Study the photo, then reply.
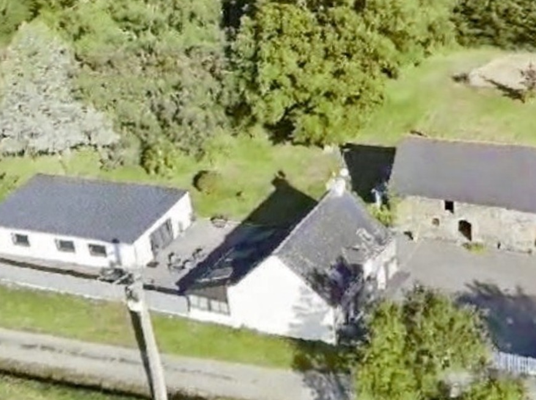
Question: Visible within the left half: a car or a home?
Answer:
home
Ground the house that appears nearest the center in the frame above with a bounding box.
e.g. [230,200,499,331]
[182,157,402,344]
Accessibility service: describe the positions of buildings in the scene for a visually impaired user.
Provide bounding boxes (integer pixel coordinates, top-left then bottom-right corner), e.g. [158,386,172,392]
[396,133,536,256]
[0,171,189,268]
[182,157,402,344]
